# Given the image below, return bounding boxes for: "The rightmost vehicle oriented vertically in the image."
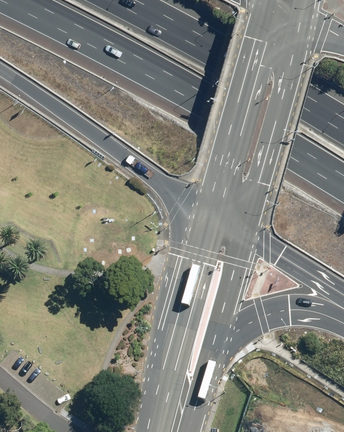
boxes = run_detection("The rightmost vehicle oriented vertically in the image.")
[196,359,216,401]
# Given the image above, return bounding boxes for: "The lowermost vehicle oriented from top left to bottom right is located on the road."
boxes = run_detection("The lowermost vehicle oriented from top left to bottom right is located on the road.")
[128,157,150,175]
